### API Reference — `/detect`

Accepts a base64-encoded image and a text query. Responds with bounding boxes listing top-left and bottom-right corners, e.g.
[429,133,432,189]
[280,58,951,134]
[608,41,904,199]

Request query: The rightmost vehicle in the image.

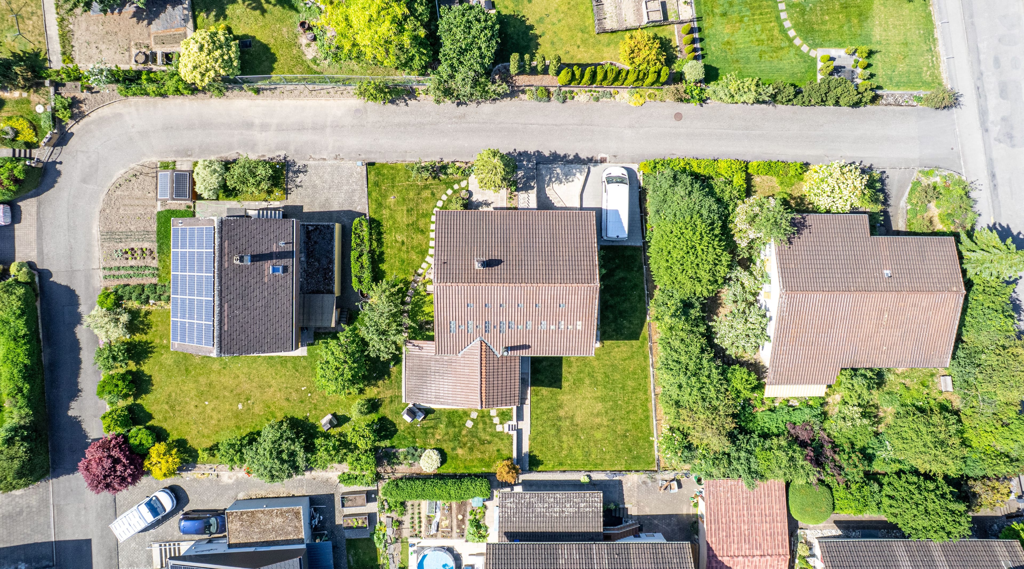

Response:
[600,169,629,241]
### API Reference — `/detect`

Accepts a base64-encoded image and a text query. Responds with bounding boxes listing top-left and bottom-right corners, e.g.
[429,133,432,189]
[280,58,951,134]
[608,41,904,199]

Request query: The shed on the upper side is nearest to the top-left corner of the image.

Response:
[157,169,202,201]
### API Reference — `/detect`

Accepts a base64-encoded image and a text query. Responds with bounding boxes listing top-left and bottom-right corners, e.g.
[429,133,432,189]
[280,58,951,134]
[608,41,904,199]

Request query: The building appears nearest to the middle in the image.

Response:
[402,209,600,410]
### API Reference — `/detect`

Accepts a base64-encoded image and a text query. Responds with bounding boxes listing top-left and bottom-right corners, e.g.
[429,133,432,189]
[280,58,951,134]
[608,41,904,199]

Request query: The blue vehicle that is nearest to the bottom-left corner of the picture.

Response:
[177,512,227,538]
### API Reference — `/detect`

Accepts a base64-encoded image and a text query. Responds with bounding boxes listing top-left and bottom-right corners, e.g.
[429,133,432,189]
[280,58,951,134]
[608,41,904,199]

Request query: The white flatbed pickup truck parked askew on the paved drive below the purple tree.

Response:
[108,489,180,545]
